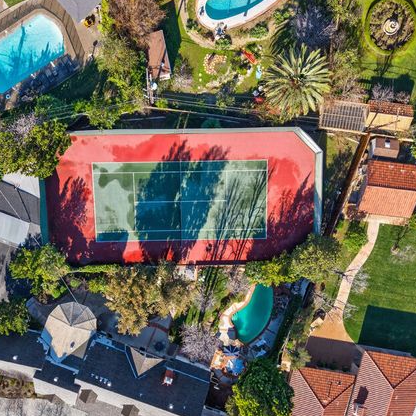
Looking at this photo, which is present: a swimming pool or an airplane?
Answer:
swimming pool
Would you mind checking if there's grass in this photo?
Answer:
Yes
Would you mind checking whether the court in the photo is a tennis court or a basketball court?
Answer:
tennis court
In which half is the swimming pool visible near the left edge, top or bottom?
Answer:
top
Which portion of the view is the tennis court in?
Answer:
center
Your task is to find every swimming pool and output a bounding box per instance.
[0,6,73,102]
[226,275,279,349]
[200,0,276,24]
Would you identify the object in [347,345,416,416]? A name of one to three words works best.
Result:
house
